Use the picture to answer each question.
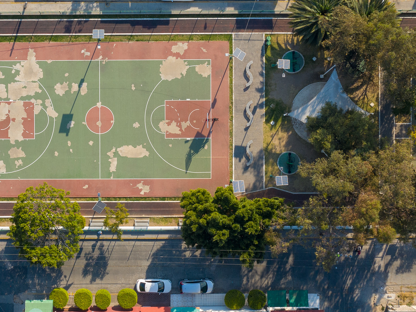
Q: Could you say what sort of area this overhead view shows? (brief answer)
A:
sports ground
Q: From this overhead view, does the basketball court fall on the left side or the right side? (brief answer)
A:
left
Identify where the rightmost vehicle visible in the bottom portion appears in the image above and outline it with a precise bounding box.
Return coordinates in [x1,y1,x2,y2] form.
[179,277,214,295]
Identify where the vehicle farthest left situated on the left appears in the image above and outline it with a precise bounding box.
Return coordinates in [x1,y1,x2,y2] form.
[136,277,172,295]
